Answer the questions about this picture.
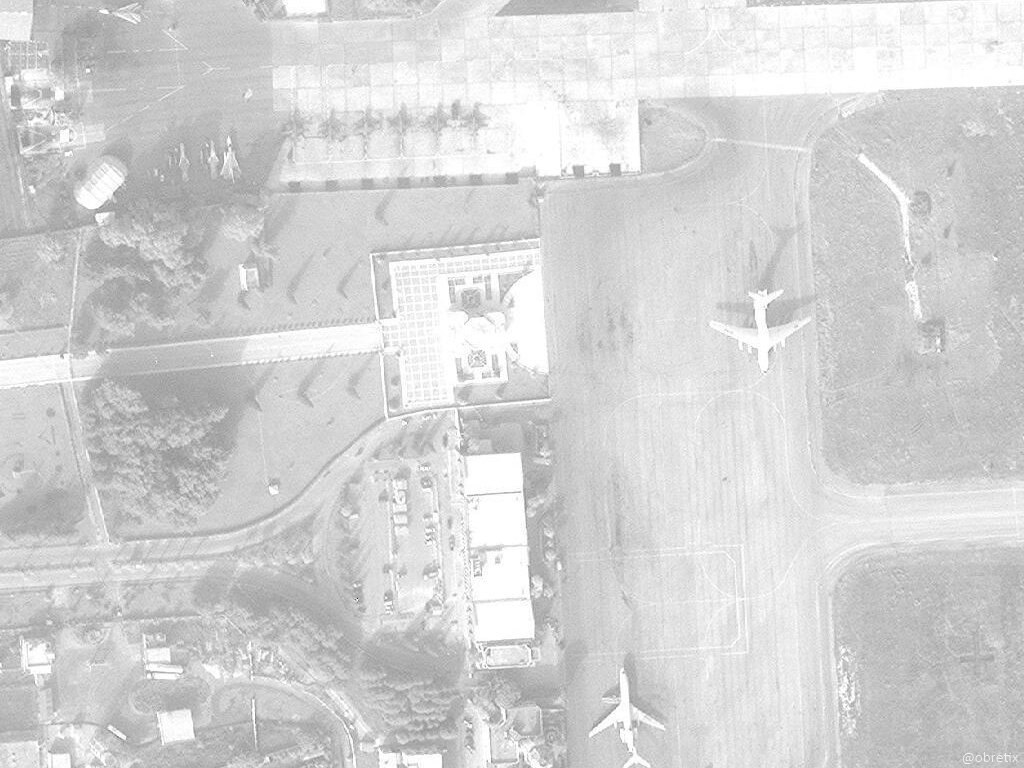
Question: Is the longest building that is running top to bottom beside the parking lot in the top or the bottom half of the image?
bottom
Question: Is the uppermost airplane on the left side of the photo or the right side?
left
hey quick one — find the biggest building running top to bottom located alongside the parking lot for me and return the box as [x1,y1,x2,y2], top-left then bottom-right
[456,446,535,643]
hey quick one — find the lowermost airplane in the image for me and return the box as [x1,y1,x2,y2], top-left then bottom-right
[590,668,667,768]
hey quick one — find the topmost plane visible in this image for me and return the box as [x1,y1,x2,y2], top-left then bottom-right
[100,3,145,25]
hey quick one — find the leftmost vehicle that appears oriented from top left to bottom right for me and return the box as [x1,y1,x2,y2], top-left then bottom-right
[108,723,126,740]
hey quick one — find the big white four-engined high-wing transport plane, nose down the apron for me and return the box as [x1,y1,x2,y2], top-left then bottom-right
[710,288,812,372]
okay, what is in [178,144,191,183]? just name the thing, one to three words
airplane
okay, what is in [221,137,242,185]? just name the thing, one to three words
airplane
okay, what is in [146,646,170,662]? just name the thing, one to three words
building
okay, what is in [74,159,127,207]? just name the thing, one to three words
hangar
